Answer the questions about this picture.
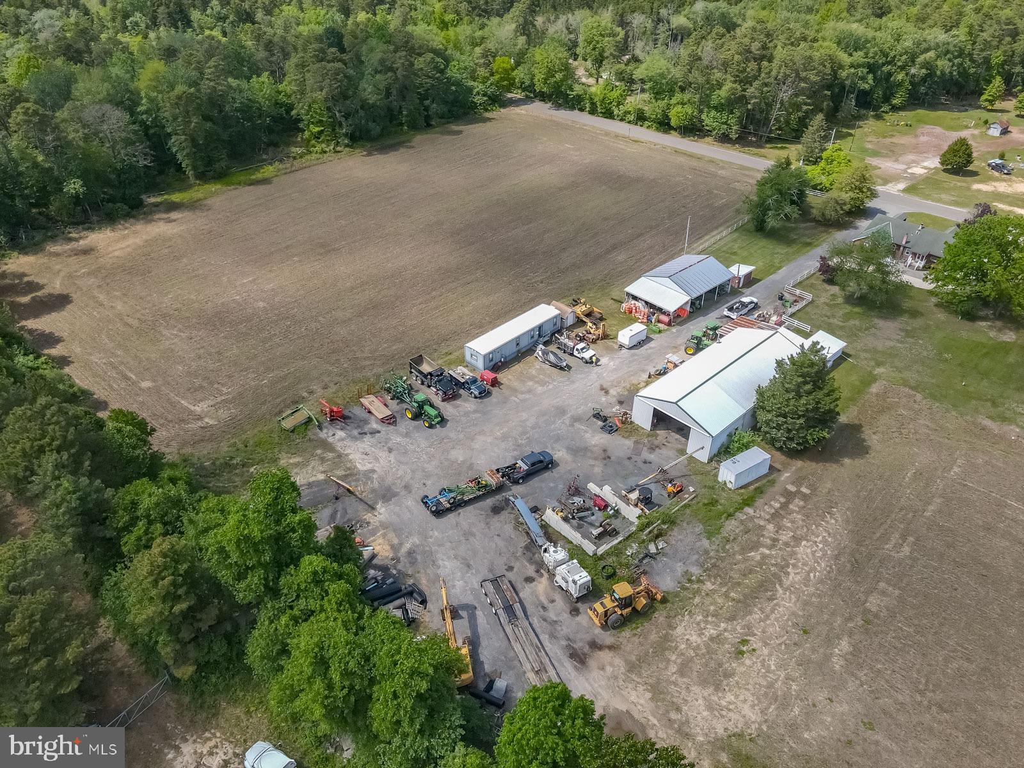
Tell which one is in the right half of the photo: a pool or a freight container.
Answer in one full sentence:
Visible in the right half of the photo is a freight container.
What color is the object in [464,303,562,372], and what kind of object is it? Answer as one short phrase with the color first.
white trailer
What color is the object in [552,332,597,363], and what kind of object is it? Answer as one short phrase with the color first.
white truck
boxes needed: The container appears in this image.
[718,446,771,491]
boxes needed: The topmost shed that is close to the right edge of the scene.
[986,120,1015,135]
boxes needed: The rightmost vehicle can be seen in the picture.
[986,162,1015,175]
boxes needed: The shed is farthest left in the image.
[547,300,578,328]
